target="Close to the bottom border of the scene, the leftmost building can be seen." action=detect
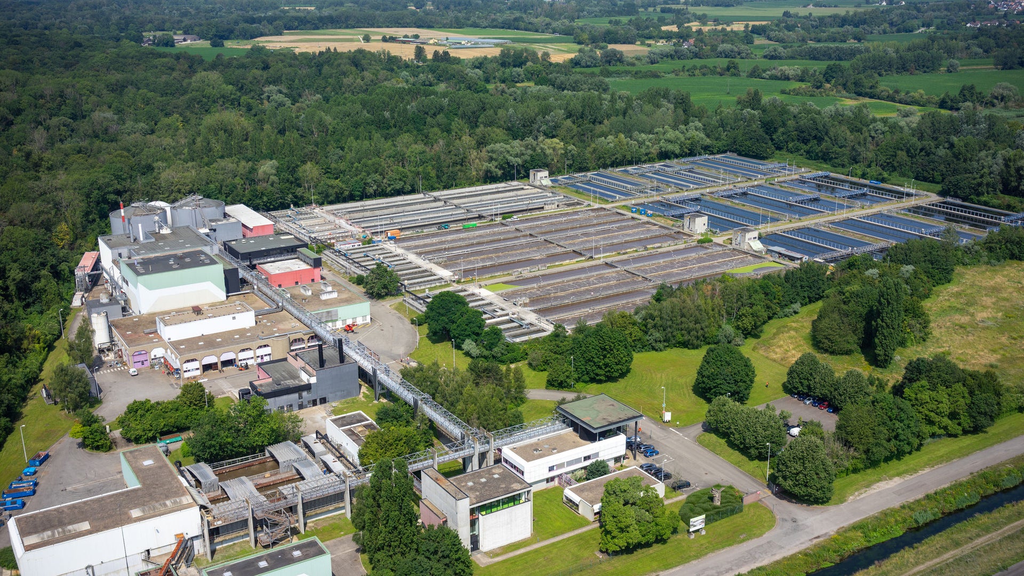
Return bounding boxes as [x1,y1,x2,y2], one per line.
[8,443,205,576]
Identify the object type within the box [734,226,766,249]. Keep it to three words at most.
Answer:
building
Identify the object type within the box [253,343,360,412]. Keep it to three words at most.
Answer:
building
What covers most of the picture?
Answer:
trees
